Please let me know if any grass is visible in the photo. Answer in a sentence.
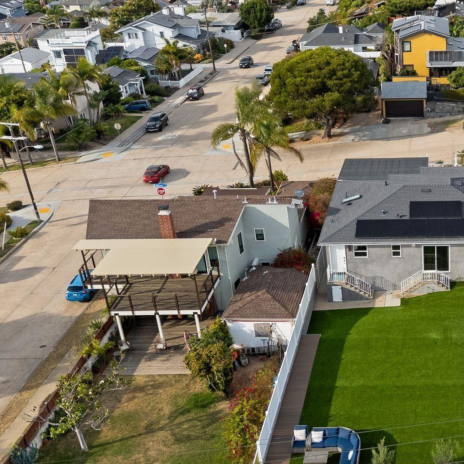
Yes, some grass is visible.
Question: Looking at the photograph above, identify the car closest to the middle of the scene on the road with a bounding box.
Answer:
[135,164,177,186]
